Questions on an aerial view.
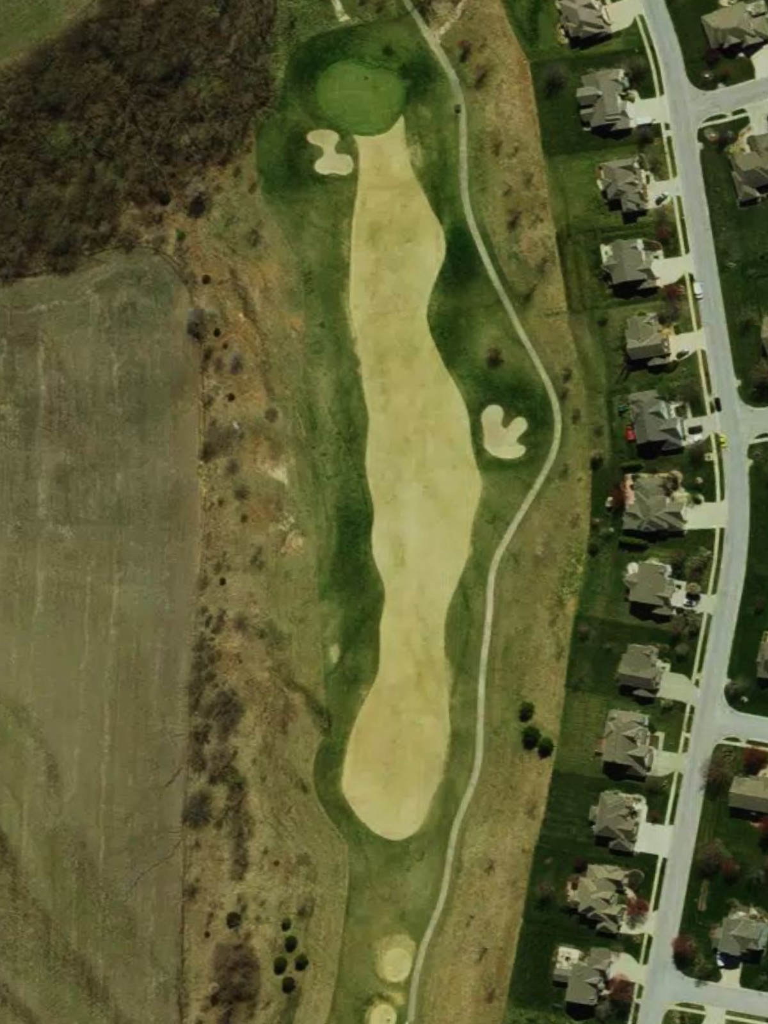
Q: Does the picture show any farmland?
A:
Yes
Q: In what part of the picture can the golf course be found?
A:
center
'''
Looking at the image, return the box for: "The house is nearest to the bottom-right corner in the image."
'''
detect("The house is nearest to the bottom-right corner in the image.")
[710,916,767,957]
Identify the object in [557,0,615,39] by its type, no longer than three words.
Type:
house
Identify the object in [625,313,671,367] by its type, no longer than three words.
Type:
house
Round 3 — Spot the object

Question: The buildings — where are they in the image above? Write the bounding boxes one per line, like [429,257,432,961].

[621,476,684,538]
[616,640,663,699]
[727,773,768,818]
[731,133,768,202]
[587,791,638,852]
[622,561,675,615]
[701,0,768,47]
[601,238,660,290]
[557,0,615,39]
[597,160,651,212]
[710,916,767,957]
[552,948,615,1005]
[629,392,685,450]
[575,860,627,936]
[625,313,671,367]
[572,68,636,130]
[601,707,652,773]
[755,634,768,679]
